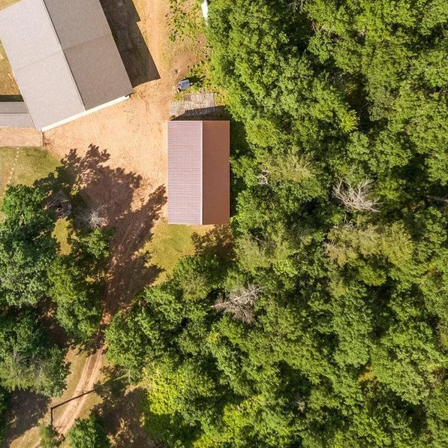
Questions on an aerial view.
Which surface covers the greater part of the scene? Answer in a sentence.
For the most part, this view shows trees.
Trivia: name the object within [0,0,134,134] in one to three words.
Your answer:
barn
